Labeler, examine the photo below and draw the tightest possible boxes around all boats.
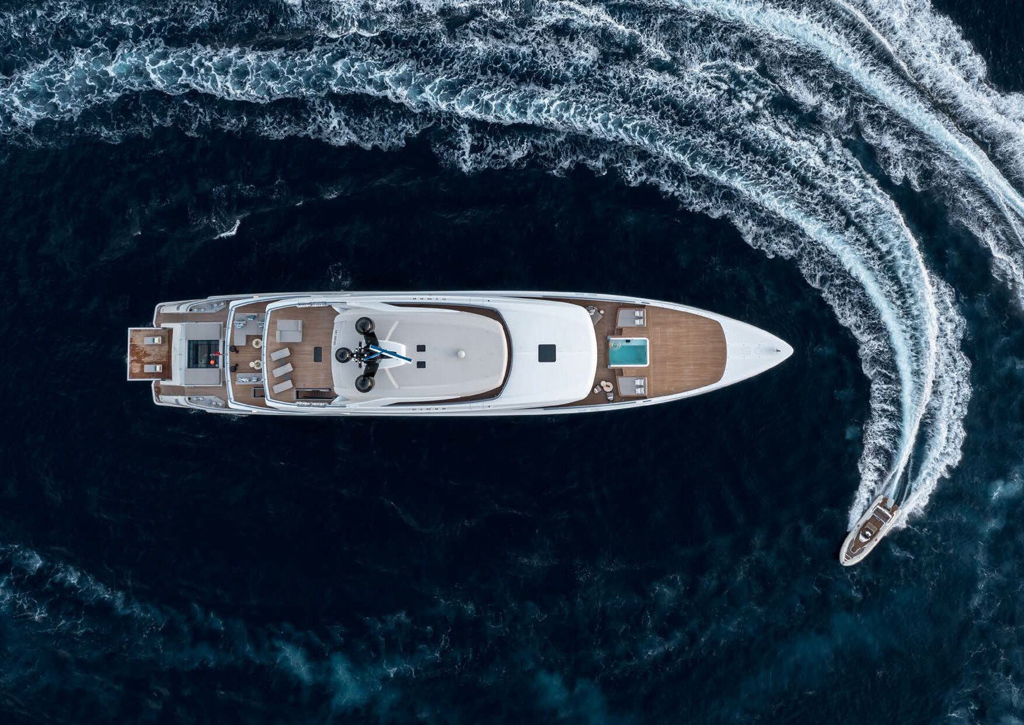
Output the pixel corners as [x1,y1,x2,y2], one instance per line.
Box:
[127,291,793,416]
[844,496,903,567]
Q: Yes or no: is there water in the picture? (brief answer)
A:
Yes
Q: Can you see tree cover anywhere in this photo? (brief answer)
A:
No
